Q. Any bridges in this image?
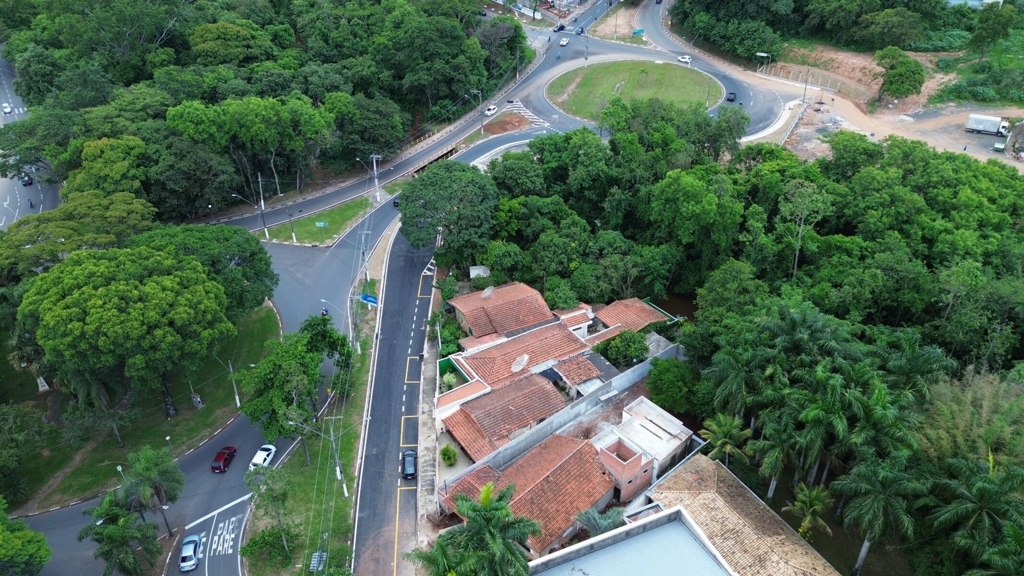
Yes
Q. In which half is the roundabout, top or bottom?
top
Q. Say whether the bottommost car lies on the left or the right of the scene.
left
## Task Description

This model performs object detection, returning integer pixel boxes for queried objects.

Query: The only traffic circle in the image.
[441,0,802,162]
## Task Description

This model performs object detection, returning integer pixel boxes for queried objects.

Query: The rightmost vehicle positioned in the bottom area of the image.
[401,451,417,478]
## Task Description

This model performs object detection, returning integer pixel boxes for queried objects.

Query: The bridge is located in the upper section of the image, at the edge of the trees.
[397,126,482,173]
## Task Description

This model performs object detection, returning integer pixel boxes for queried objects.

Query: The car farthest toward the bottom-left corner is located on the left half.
[178,533,201,570]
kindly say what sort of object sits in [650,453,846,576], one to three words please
house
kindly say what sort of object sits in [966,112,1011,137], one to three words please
truck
